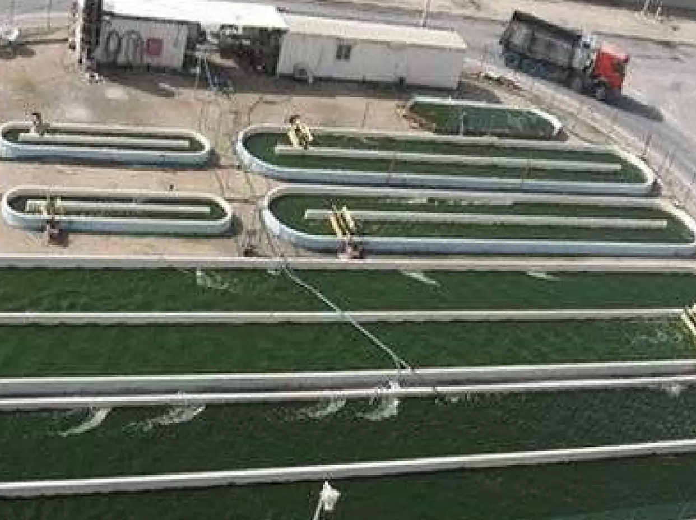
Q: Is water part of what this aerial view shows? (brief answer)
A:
Yes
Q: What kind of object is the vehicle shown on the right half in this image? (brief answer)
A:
truck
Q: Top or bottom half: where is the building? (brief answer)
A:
top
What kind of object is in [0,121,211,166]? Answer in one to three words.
pond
